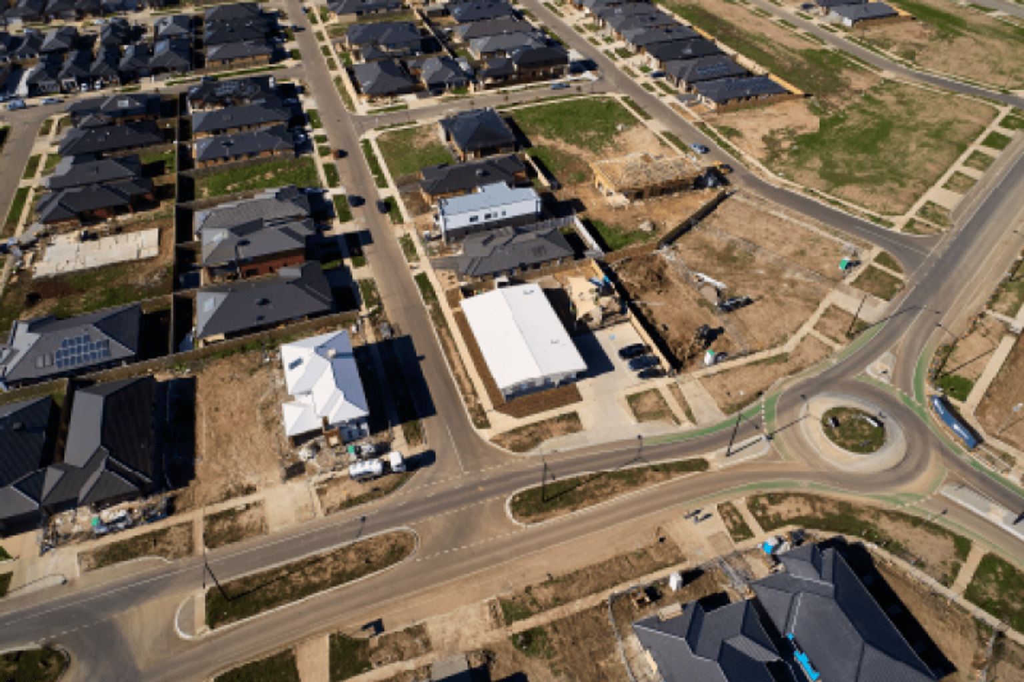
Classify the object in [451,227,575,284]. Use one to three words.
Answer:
house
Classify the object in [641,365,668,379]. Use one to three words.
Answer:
car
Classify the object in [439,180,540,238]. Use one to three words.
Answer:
house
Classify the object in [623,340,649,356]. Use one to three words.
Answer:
car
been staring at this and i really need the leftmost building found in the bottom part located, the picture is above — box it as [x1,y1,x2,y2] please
[0,395,59,531]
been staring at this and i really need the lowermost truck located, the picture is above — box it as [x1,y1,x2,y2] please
[349,456,407,486]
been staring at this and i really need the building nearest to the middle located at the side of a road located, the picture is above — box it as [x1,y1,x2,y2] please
[453,281,587,402]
